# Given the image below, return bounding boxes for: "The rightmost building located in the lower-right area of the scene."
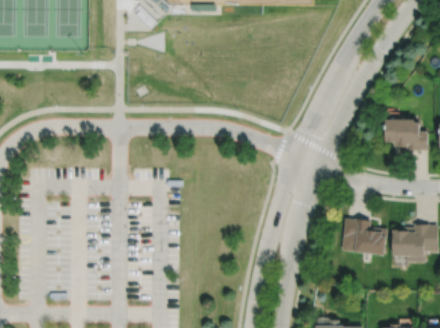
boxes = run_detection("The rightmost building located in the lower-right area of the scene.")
[393,225,439,264]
